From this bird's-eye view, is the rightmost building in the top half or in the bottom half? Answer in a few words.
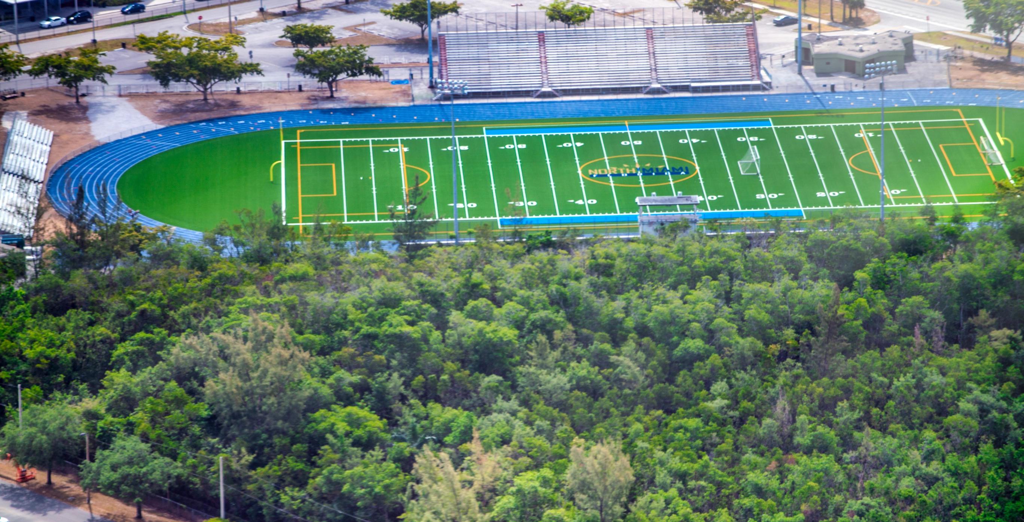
top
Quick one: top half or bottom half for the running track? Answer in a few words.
top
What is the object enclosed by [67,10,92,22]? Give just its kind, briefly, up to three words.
vehicle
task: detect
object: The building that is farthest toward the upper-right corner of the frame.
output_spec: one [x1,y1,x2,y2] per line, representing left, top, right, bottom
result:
[796,30,912,76]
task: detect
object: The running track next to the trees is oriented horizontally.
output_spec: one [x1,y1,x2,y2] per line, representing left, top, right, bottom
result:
[42,89,1024,260]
